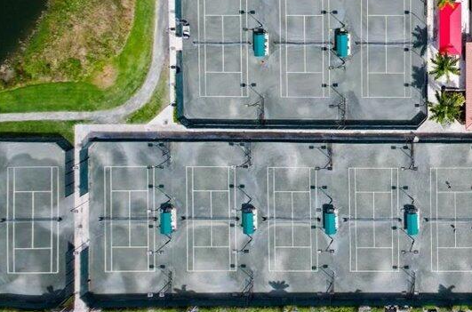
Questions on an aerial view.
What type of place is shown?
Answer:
sports ground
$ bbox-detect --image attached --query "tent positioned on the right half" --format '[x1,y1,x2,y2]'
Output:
[439,2,462,54]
